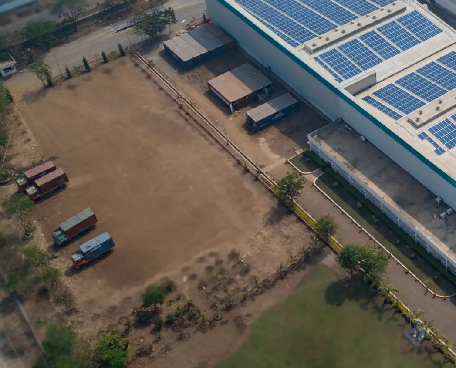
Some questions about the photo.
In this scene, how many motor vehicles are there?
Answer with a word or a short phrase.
4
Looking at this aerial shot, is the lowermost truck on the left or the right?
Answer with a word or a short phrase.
left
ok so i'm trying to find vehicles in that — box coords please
[70,231,116,269]
[24,165,69,198]
[50,205,101,244]
[12,158,56,192]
